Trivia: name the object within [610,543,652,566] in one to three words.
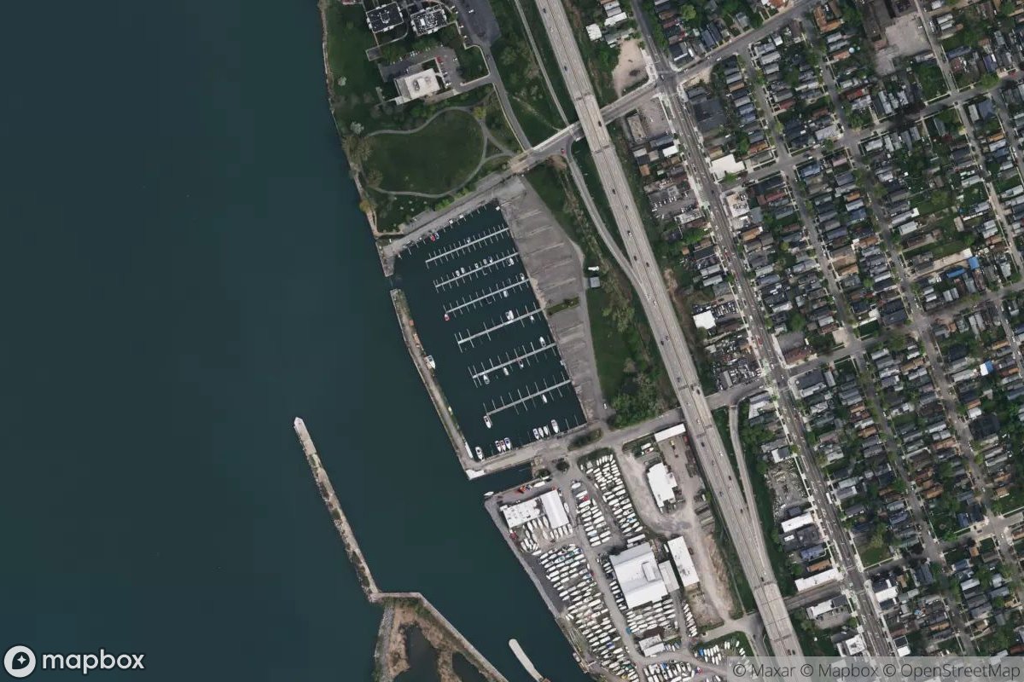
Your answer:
building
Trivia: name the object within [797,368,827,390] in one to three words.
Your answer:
building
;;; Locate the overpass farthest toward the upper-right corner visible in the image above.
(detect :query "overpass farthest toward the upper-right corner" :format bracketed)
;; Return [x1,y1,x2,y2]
[573,91,613,155]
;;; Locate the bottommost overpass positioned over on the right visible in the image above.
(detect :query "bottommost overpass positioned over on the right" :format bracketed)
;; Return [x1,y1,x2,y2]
[753,582,795,644]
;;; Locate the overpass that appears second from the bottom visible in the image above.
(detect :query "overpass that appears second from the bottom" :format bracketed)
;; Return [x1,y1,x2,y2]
[676,381,716,437]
